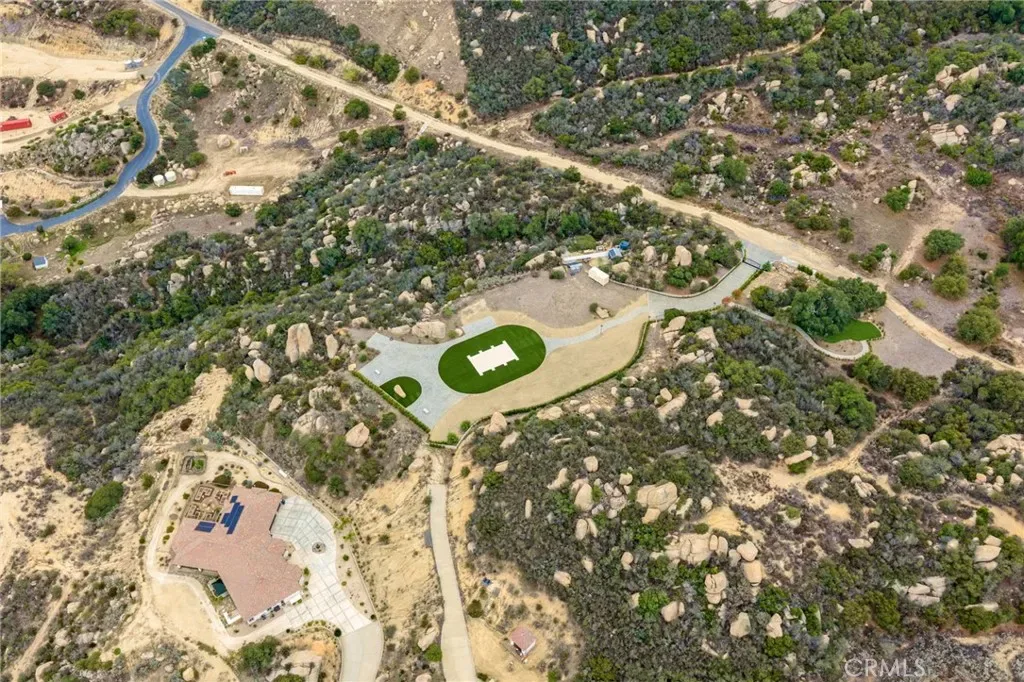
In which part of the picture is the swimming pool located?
bottom left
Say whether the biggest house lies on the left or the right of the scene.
left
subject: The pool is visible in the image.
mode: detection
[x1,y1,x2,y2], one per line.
[208,576,228,599]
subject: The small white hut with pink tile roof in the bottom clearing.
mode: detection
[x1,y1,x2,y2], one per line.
[510,626,538,657]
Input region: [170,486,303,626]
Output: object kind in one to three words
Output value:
house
